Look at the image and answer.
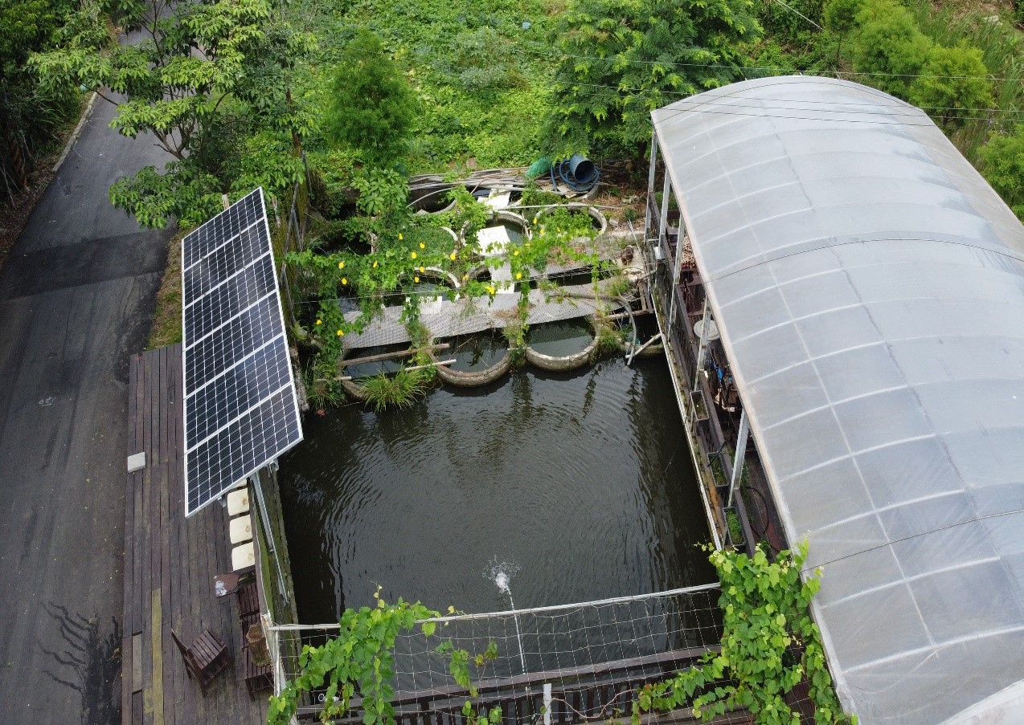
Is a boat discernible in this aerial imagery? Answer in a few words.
No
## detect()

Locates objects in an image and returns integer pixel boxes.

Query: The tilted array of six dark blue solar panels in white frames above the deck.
[181,188,305,605]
